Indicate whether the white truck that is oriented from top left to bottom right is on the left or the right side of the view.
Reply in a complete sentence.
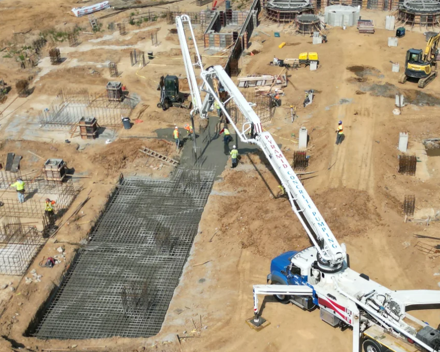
The white truck that is oriented from top left to bottom right appears in the right half of the scene.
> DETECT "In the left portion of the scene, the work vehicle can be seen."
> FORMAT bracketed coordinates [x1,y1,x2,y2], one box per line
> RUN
[159,77,186,109]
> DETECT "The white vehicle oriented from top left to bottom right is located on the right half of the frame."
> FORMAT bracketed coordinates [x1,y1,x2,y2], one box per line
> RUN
[176,8,440,352]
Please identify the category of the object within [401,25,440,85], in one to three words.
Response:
work vehicle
